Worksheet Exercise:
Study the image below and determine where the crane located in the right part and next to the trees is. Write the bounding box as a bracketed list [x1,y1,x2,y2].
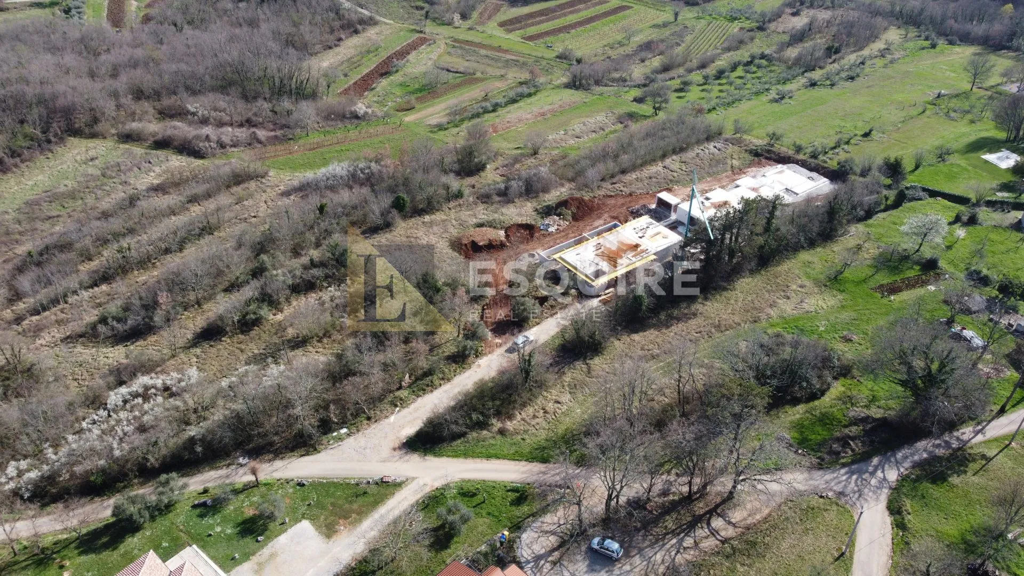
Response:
[679,160,708,238]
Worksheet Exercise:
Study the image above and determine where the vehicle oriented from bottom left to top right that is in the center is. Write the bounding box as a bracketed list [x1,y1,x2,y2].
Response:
[511,331,535,349]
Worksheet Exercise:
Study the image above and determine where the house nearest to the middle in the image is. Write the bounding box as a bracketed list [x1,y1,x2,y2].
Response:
[554,217,684,295]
